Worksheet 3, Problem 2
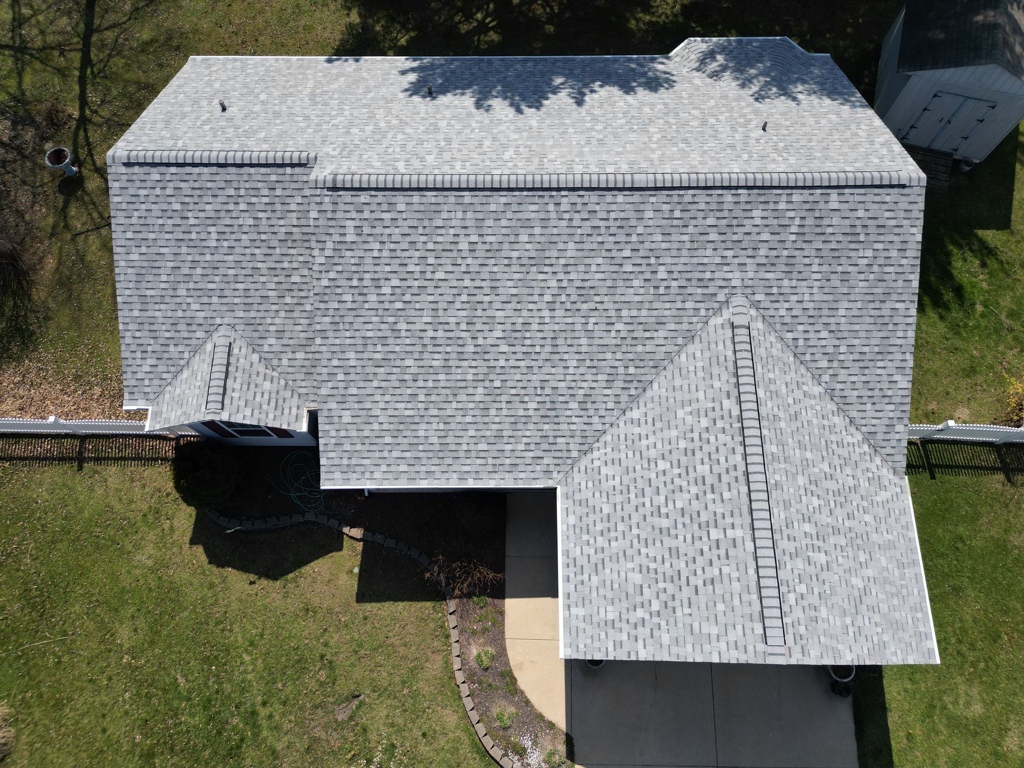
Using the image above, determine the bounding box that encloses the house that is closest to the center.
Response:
[107,34,940,665]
